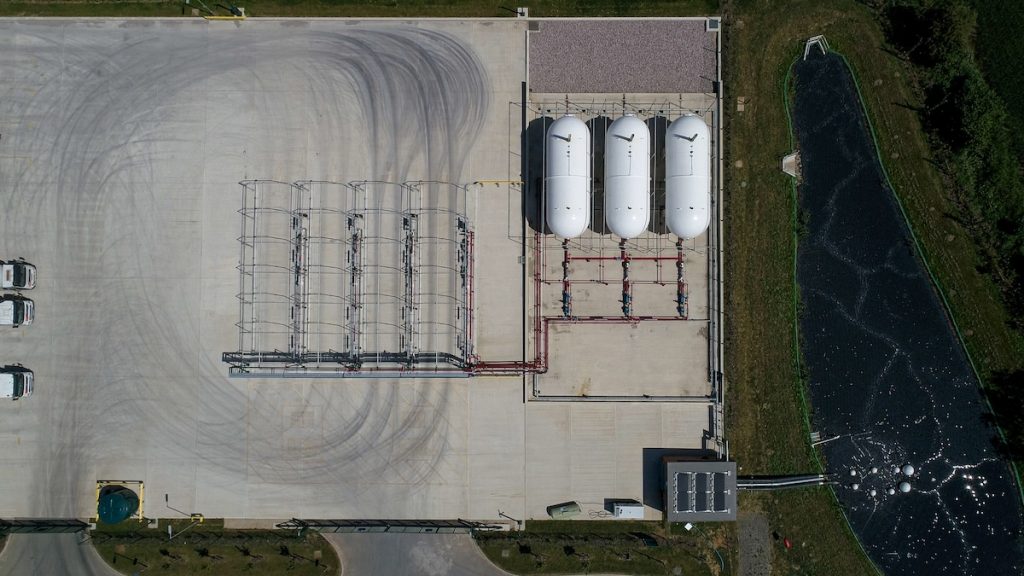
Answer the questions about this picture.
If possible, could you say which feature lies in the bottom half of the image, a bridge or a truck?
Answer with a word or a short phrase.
truck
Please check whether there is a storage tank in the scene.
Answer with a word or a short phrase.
Yes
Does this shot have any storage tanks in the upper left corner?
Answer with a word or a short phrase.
No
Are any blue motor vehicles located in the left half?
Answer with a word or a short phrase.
No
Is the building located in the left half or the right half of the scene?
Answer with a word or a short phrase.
right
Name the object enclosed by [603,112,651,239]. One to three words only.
storage tank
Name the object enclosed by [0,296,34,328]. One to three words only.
truck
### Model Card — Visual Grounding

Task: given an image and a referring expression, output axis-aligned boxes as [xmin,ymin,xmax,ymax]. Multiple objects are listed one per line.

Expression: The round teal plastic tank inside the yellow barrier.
[98,486,140,524]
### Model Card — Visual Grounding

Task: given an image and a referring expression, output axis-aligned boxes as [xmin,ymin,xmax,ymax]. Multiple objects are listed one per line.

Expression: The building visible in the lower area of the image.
[662,456,736,521]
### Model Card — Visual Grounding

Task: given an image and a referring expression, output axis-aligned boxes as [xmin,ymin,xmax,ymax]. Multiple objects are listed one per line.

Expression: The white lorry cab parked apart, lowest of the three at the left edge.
[0,370,34,402]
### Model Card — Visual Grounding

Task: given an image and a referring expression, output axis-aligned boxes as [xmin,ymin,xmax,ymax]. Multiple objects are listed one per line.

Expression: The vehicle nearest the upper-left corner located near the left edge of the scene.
[0,259,35,291]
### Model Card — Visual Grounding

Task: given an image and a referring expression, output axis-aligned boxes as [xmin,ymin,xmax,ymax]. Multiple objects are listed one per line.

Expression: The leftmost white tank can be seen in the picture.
[545,112,590,239]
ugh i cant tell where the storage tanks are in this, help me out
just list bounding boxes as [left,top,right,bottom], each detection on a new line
[545,112,590,239]
[660,112,712,239]
[603,112,651,239]
[98,486,140,524]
